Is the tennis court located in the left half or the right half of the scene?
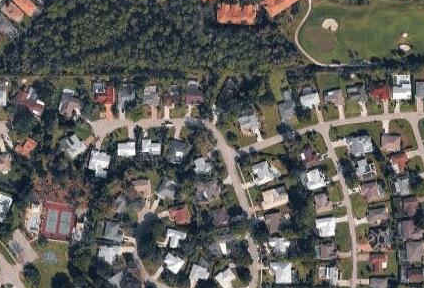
left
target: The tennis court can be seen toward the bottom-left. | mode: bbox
[40,200,76,241]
